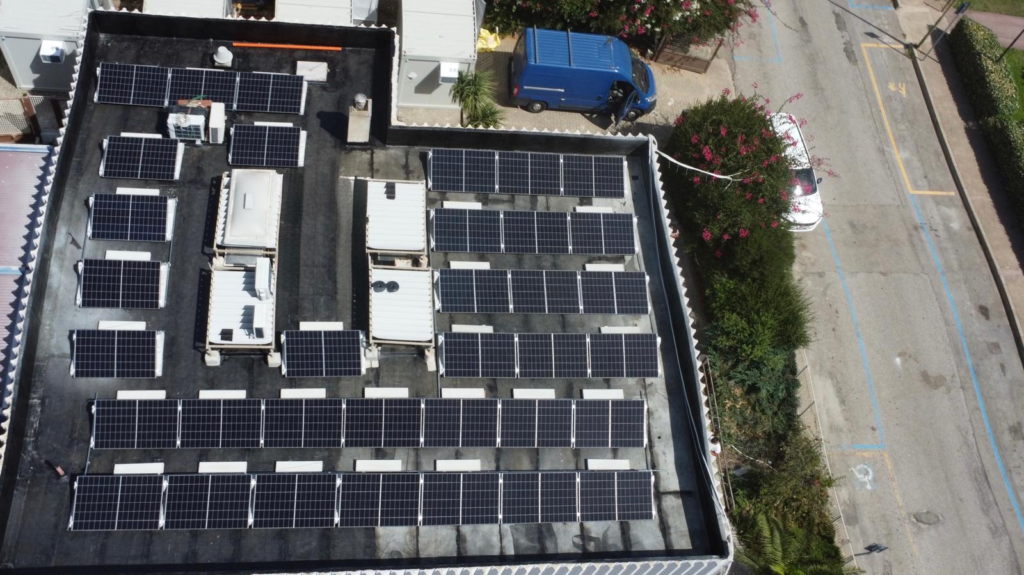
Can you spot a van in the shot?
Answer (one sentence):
Yes, a van appears in the view.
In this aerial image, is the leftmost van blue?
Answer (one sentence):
Yes, the leftmost van is blue.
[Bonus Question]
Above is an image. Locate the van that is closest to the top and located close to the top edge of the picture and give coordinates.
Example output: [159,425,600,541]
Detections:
[507,16,659,130]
